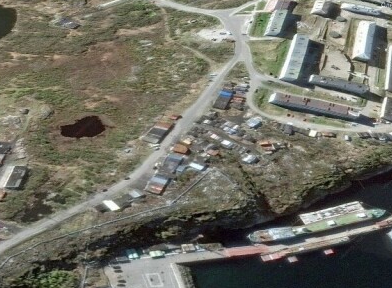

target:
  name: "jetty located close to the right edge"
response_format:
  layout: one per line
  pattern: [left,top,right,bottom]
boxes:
[267,219,392,254]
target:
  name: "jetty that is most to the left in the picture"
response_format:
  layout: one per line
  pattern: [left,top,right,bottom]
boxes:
[179,249,228,265]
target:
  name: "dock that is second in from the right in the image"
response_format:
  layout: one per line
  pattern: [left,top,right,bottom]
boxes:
[226,244,268,258]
